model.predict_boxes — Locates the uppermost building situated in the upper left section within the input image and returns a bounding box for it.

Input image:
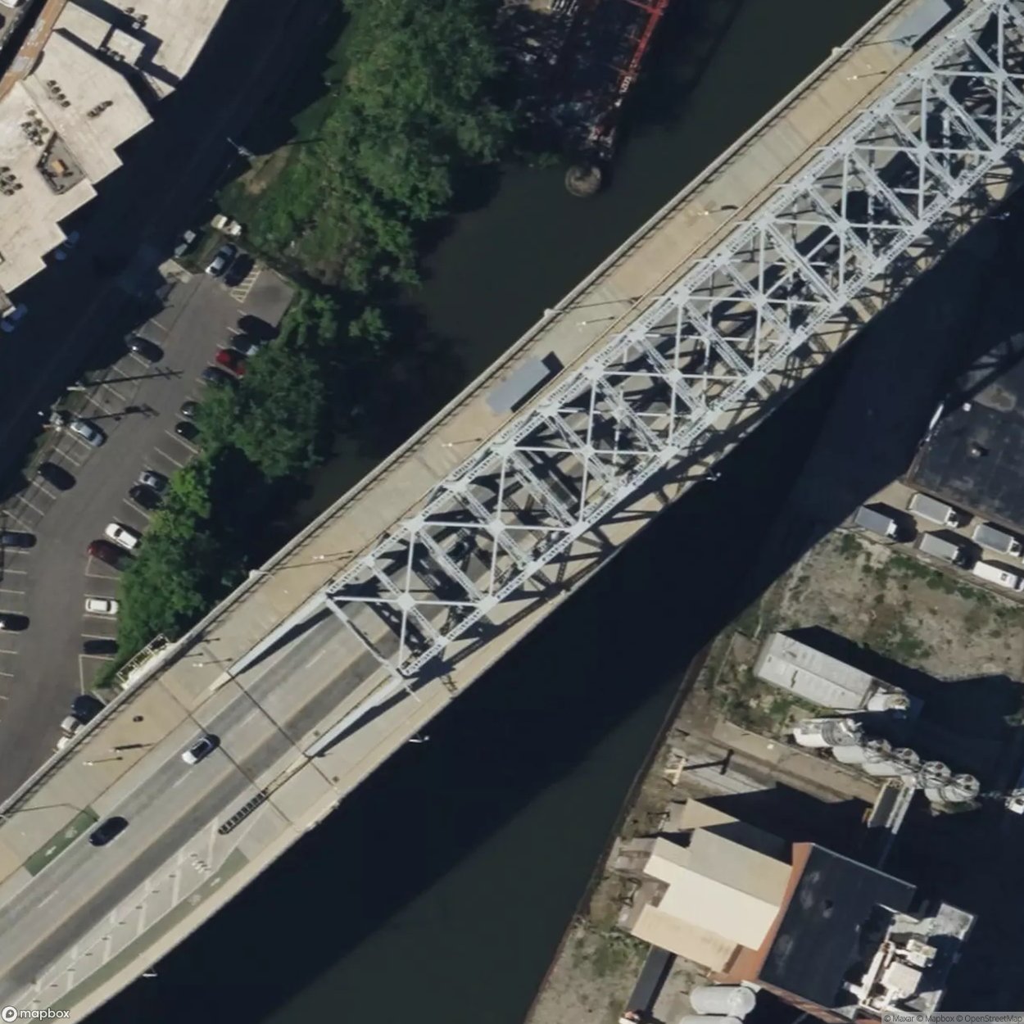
[0,0,232,320]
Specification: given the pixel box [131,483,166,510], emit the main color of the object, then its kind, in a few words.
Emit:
black car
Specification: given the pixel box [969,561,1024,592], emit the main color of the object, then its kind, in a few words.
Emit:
white truck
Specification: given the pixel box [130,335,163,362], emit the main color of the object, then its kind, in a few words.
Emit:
black car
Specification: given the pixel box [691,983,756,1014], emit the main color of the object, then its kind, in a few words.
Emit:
white silo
